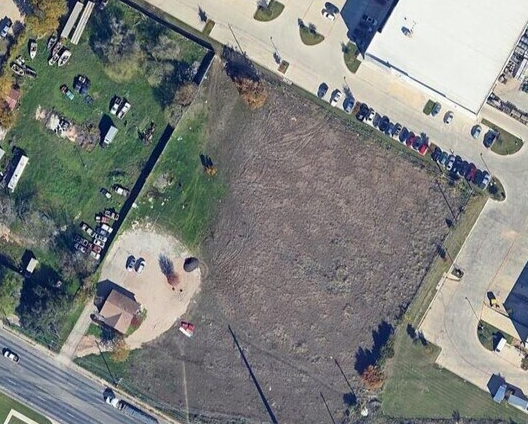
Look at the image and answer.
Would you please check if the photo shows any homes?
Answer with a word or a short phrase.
Yes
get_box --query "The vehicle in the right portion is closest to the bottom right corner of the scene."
[507,395,528,412]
